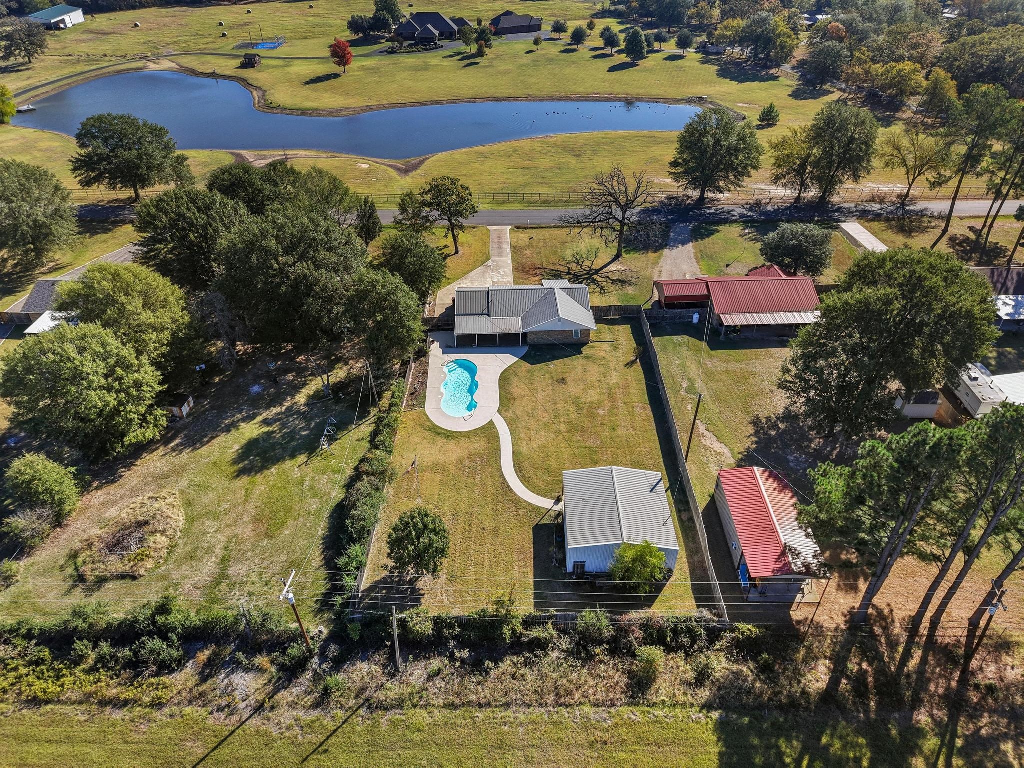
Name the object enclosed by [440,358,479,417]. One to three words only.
swimming pool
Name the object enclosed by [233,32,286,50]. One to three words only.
sports court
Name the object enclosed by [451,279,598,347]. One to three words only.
house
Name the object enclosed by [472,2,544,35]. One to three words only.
building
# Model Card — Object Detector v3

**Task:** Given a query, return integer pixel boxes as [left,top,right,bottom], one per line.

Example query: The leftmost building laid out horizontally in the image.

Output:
[14,3,85,33]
